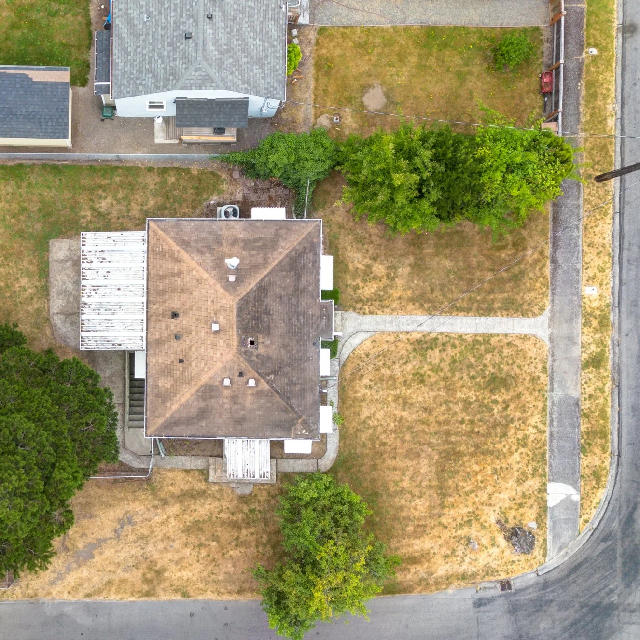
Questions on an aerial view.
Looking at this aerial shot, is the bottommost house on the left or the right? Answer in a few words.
left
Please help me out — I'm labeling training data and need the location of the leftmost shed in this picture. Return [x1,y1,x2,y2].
[0,65,72,149]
